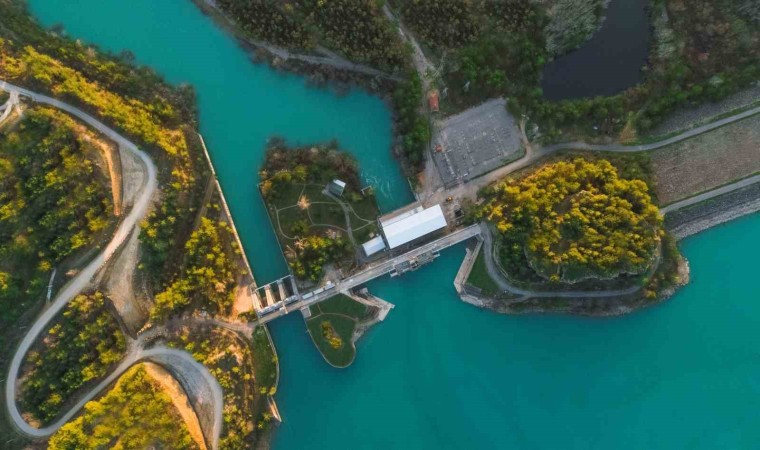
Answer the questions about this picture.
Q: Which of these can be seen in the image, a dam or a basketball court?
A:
dam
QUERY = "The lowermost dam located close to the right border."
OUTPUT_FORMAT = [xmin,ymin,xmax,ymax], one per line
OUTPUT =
[668,184,760,241]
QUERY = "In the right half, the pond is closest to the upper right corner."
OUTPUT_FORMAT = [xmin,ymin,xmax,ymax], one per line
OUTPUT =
[541,0,652,100]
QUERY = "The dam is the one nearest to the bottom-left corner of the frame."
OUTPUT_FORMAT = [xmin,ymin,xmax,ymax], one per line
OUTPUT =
[247,224,483,326]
